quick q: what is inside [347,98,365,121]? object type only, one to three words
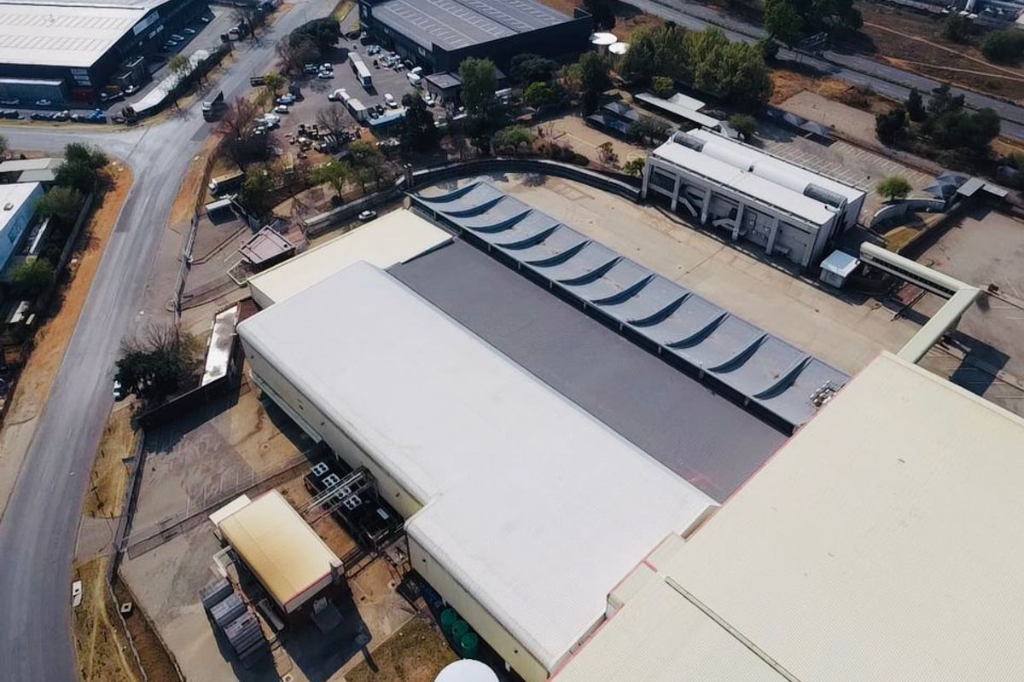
vehicle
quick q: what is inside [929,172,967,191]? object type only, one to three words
tent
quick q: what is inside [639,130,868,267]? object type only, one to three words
building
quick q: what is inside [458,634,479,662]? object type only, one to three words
water tank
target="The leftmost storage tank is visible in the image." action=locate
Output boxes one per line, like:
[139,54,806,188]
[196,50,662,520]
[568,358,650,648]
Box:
[249,599,279,637]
